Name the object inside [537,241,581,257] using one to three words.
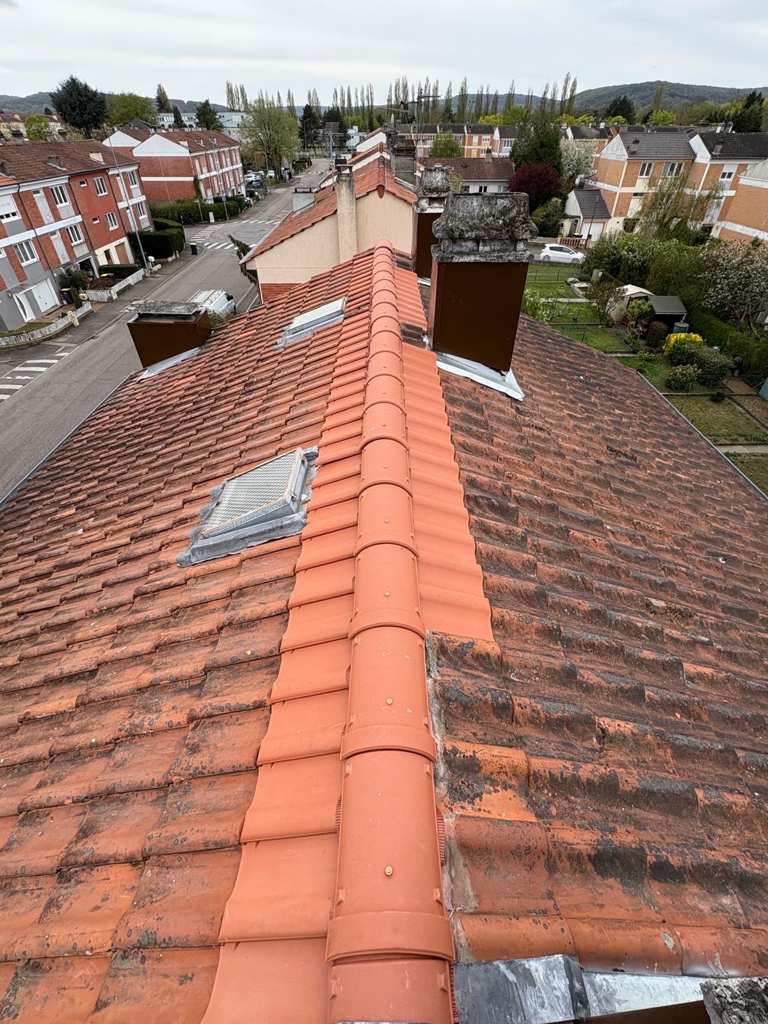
car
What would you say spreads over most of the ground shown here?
buildings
